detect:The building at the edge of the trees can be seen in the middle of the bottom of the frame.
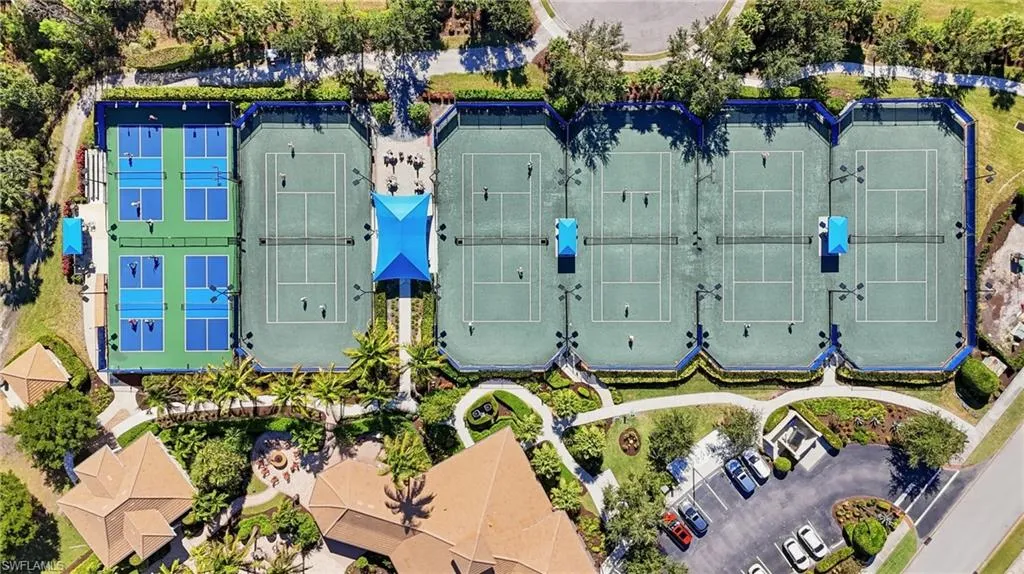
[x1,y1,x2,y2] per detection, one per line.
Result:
[308,428,599,574]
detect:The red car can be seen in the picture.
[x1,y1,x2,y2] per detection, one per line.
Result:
[663,512,693,546]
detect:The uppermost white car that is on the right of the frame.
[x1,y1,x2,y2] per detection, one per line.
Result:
[743,449,773,483]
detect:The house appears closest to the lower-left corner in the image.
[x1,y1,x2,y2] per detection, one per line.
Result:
[56,430,198,568]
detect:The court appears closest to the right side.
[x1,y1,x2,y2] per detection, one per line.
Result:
[830,105,966,367]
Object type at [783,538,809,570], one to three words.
car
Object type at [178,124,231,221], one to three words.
sports court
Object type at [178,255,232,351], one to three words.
sports court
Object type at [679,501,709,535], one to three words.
car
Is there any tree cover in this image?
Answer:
Yes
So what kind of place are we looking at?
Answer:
sports ground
